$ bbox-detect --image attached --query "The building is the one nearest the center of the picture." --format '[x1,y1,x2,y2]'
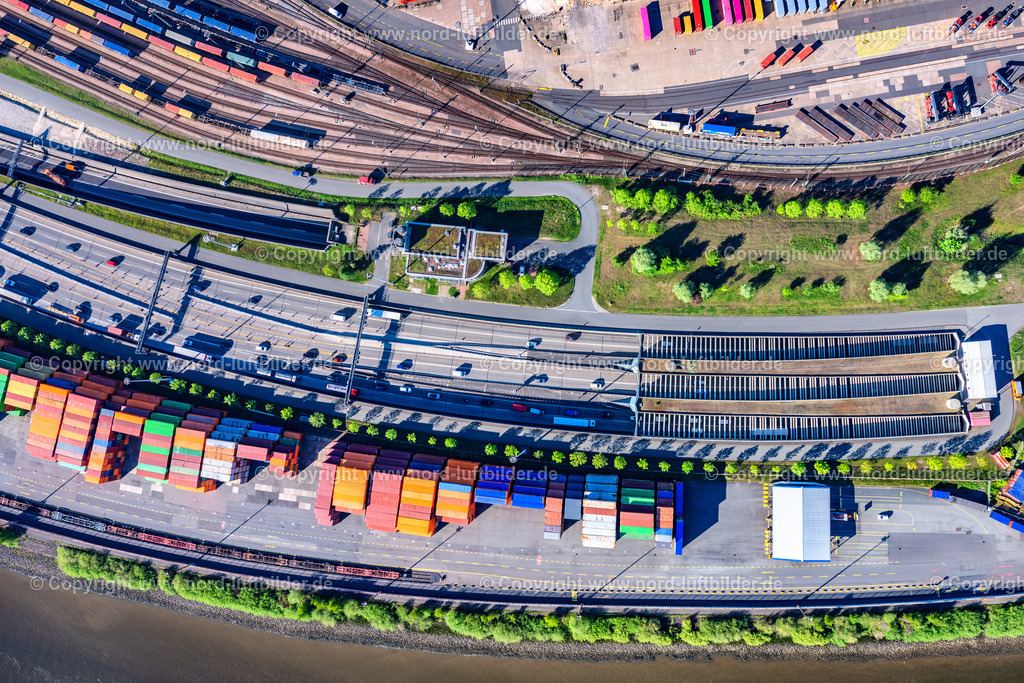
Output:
[404,221,510,281]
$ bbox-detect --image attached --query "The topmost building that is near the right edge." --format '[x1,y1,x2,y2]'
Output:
[957,340,997,399]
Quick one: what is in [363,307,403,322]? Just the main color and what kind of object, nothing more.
white vehicle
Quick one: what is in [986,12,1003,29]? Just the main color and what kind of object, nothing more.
red work vehicle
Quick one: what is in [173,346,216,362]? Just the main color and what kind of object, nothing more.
white vehicle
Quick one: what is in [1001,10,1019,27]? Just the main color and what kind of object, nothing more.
blue work vehicle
